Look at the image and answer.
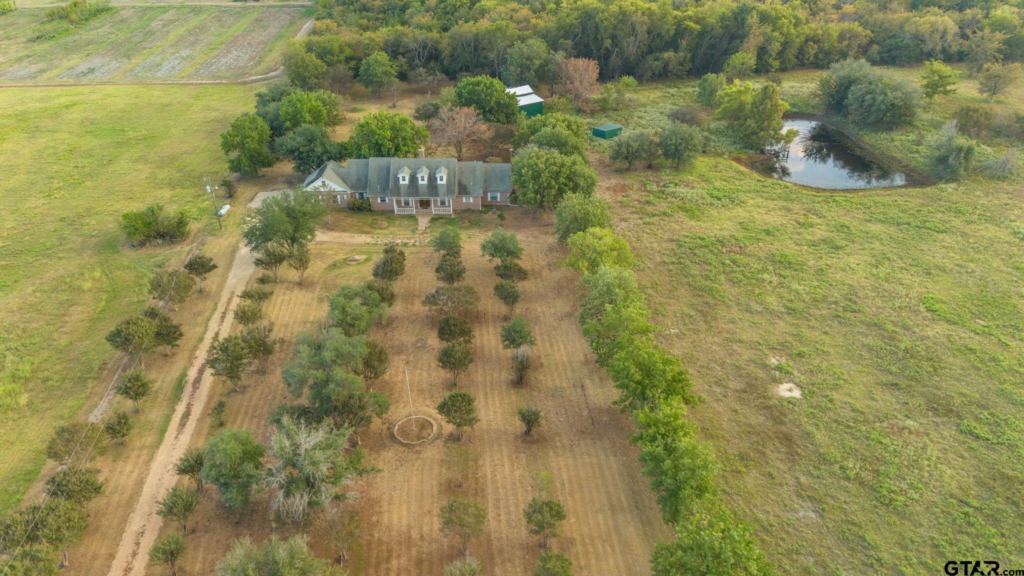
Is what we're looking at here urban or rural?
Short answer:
rural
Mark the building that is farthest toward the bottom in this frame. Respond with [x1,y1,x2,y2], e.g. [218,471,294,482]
[298,148,527,215]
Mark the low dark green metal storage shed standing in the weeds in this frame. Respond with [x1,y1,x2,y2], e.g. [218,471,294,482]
[593,121,622,139]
